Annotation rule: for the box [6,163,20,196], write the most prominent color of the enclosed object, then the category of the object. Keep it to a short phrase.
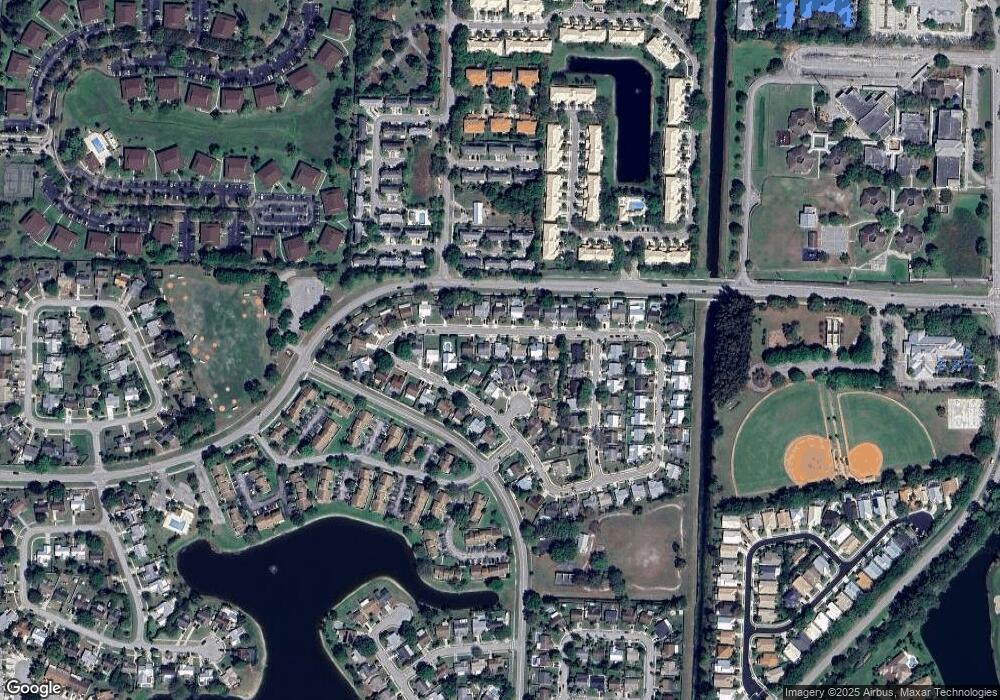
gray tennis court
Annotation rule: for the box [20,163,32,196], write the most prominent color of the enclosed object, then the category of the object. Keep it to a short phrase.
gray tennis court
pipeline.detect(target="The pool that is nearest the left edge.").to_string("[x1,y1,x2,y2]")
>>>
[81,130,111,166]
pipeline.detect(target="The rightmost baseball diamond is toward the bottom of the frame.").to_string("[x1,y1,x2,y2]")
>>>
[840,391,937,481]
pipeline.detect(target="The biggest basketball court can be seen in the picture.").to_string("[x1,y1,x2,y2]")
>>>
[948,399,983,429]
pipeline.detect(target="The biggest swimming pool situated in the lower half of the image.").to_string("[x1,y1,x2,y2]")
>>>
[163,510,195,535]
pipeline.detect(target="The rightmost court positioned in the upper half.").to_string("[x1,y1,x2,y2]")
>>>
[821,226,847,252]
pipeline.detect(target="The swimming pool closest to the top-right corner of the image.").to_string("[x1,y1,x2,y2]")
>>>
[628,197,646,217]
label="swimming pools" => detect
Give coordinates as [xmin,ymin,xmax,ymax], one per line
[906,653,918,668]
[408,209,431,226]
[163,510,195,535]
[628,197,646,217]
[81,130,111,166]
[443,341,452,352]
